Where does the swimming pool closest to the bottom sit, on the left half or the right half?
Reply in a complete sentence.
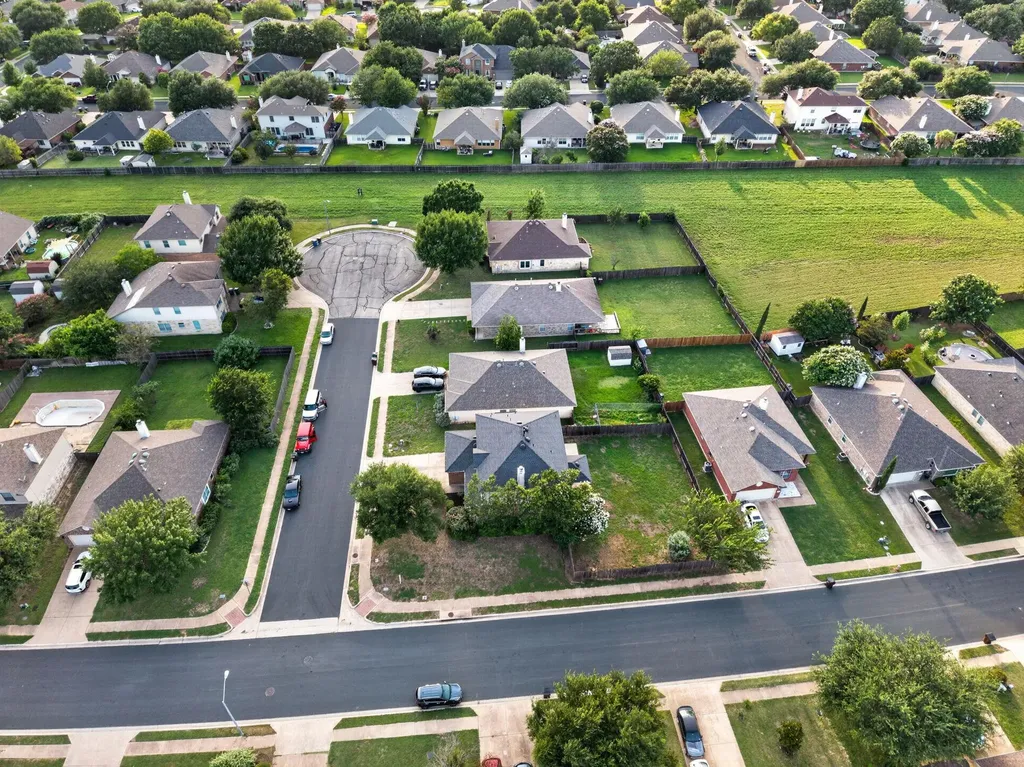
You can find the swimming pool closest to the bottom on the left side of the picture.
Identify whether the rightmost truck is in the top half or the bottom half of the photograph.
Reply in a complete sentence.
It is in the bottom half that the rightmost truck appears.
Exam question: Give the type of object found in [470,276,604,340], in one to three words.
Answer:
house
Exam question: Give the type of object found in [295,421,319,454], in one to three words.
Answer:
car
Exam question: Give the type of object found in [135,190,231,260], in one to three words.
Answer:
house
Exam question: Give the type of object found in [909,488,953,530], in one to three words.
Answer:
truck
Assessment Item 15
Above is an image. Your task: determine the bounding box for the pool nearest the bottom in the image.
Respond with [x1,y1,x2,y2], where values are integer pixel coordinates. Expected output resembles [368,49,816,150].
[36,399,103,430]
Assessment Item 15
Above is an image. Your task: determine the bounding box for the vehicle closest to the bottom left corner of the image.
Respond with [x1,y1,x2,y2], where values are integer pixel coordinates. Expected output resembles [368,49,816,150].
[65,555,92,592]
